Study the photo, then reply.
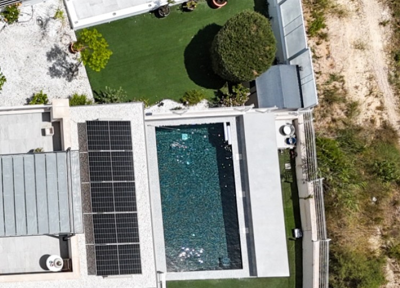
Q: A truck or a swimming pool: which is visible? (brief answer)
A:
swimming pool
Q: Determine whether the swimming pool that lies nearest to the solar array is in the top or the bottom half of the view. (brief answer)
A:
bottom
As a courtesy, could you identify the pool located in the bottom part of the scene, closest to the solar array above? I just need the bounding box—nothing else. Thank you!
[144,120,249,281]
